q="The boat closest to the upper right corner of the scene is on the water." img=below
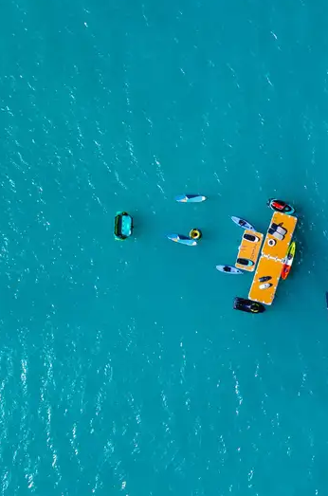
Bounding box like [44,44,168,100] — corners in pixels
[266,197,297,215]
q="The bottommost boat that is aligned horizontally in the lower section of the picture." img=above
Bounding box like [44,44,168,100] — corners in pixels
[232,298,267,313]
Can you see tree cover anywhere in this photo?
No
